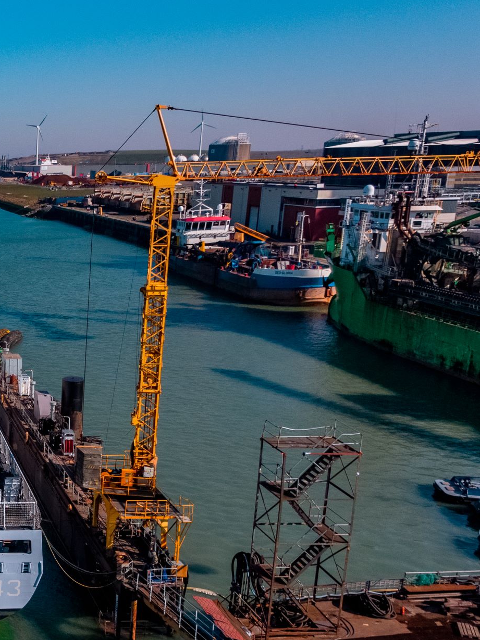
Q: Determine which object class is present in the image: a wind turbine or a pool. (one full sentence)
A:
Visible in the photo is a wind turbine.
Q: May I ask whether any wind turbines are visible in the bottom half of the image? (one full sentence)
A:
No, no wind turbine can be made out in the bottom half of the image.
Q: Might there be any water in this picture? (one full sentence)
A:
Yes, water can be seen from above here.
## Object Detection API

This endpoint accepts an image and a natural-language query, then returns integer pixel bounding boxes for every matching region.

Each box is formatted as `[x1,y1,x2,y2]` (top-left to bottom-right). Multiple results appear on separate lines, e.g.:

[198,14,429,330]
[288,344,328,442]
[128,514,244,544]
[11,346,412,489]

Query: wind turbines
[22,108,48,166]
[182,99,224,148]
